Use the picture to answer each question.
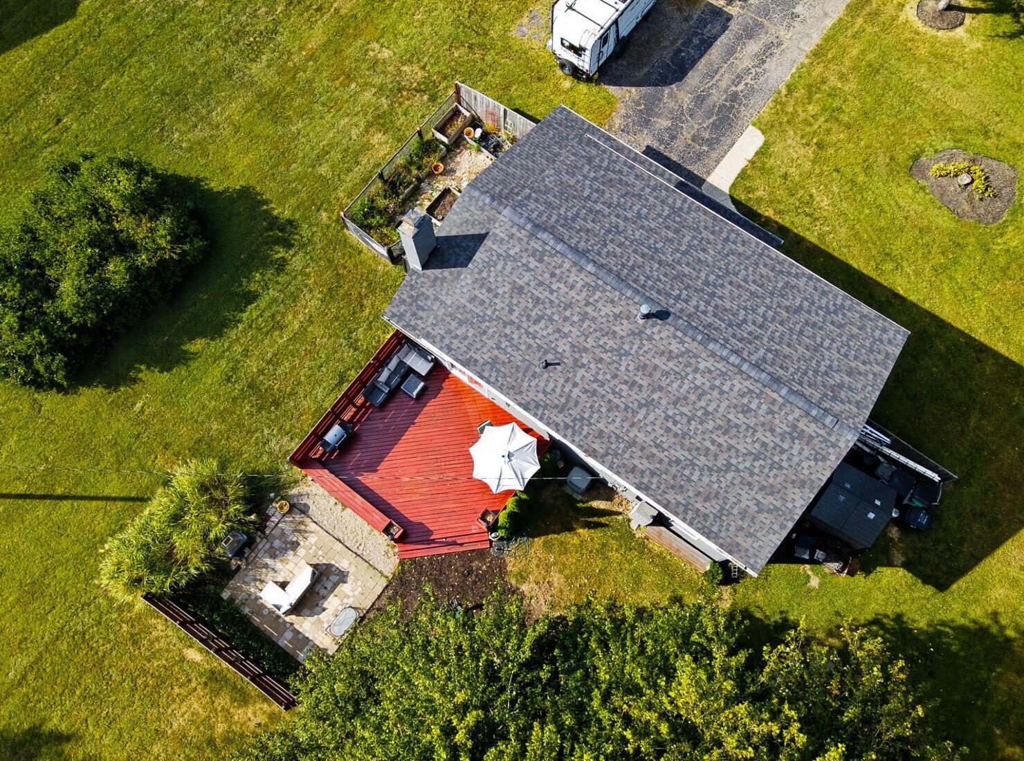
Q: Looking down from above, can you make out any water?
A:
No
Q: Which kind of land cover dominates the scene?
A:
grass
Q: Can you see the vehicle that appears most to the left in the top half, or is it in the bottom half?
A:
top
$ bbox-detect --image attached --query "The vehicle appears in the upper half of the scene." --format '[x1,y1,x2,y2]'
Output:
[548,0,649,79]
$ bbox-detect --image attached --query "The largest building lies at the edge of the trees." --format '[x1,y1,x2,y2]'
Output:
[384,104,908,577]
